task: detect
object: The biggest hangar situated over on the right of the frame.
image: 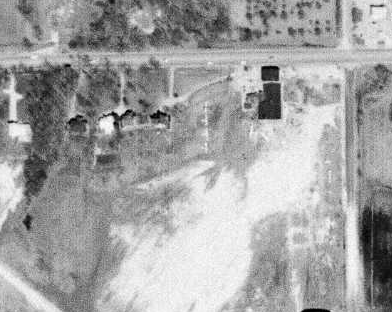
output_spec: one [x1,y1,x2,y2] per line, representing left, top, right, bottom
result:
[259,81,282,119]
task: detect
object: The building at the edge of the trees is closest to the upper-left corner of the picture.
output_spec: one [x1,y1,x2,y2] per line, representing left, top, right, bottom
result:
[9,123,32,142]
